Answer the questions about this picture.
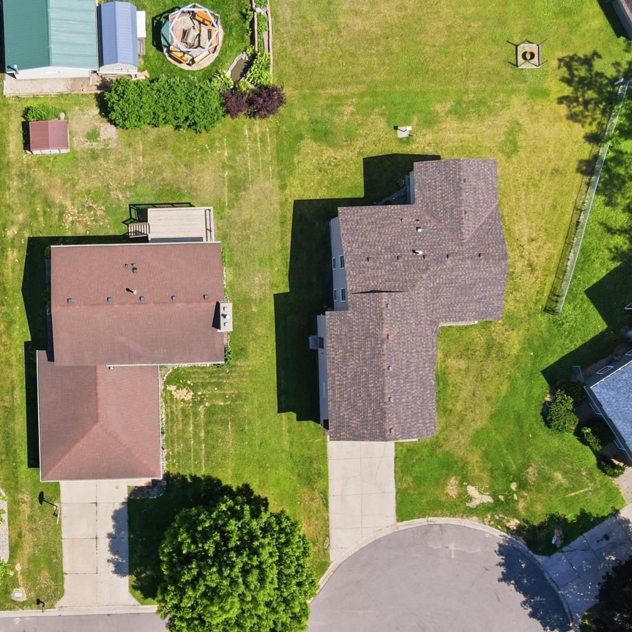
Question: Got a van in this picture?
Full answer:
No, the picture doesn't show any van.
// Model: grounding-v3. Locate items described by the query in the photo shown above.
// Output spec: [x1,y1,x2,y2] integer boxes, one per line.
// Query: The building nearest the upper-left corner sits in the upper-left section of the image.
[2,0,100,78]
